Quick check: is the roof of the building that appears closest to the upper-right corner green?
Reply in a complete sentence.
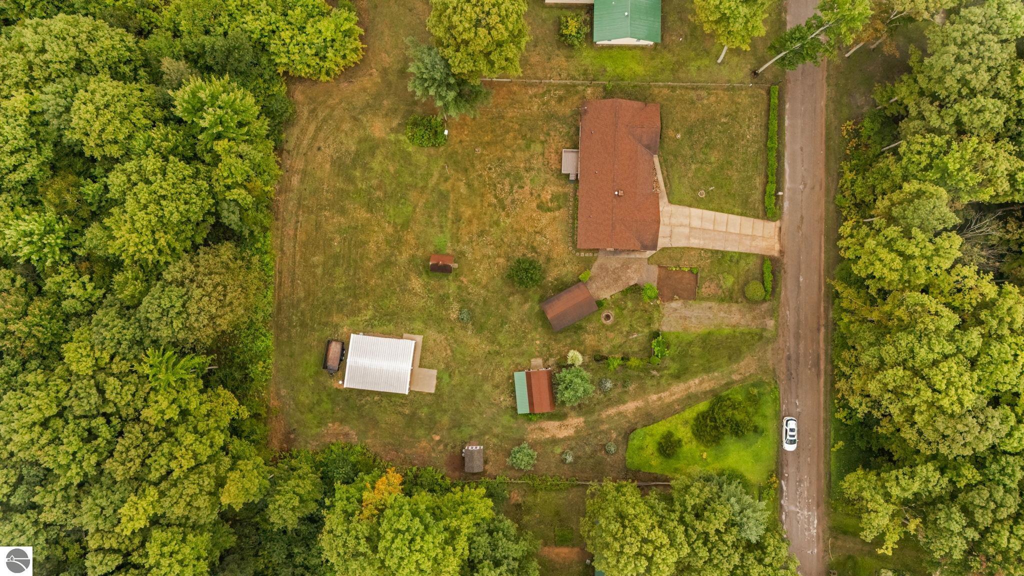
Yes, green is the color of the roof of the building that appears closest to the upper-right corner.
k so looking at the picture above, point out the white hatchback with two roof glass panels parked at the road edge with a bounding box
[781,417,800,451]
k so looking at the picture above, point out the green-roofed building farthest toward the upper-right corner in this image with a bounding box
[594,0,661,45]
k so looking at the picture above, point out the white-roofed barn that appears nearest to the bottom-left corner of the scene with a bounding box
[343,334,418,394]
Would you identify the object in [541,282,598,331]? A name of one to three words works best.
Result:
shed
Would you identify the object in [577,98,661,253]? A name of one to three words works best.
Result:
house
